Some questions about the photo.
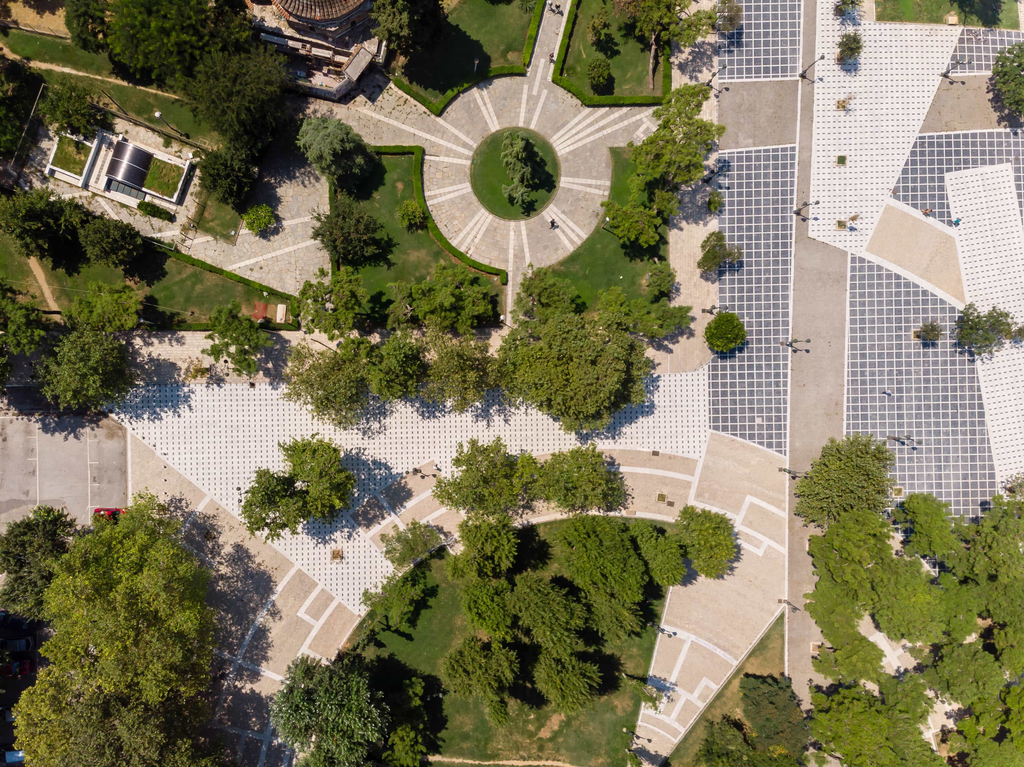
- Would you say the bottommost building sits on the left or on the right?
left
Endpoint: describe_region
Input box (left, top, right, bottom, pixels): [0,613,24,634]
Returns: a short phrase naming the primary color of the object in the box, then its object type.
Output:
black car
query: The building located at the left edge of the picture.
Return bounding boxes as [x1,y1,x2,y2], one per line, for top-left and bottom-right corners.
[43,130,197,211]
